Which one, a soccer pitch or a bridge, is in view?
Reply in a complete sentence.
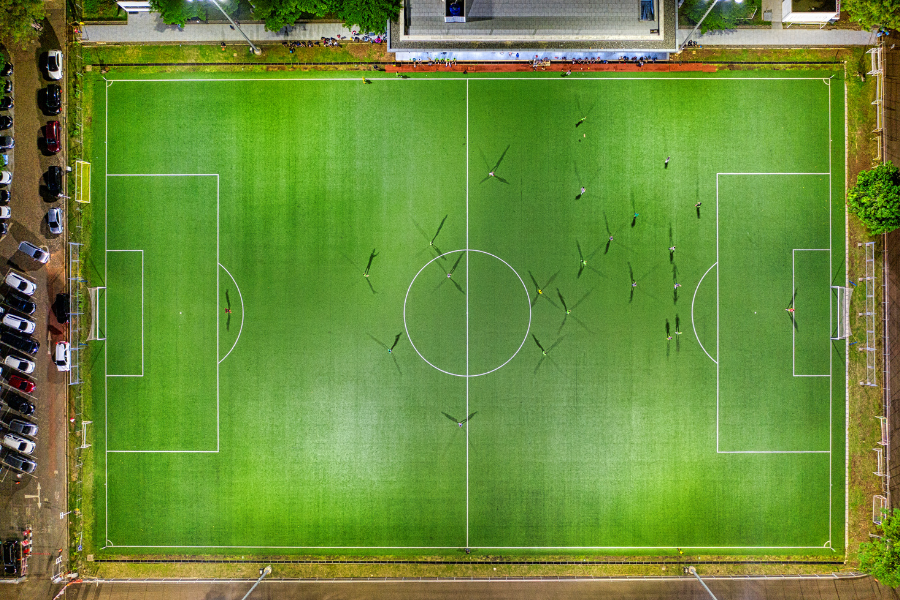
There is a soccer pitch in the scene.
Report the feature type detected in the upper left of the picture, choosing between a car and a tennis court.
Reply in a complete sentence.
There is a car in the upper left of the picture.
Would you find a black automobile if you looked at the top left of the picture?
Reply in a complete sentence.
Yes, looking at the top left of the picture, one can make out a black automobile.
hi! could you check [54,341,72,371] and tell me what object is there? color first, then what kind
white car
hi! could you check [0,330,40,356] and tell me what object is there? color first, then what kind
black car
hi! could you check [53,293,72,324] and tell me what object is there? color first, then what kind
black car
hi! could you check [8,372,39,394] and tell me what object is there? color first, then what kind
red car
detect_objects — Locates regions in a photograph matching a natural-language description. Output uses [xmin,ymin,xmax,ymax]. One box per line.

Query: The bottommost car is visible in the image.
[0,539,20,575]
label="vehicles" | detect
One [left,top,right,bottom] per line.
[0,330,40,356]
[0,154,10,167]
[45,121,63,153]
[0,380,6,394]
[4,432,39,456]
[47,208,64,235]
[0,77,14,94]
[5,451,40,474]
[45,83,63,115]
[47,51,64,81]
[0,114,15,131]
[0,63,15,78]
[4,391,39,415]
[0,134,16,150]
[0,170,14,185]
[0,95,16,111]
[54,341,72,371]
[53,293,72,324]
[8,372,39,394]
[4,352,37,375]
[2,312,38,336]
[0,205,13,220]
[8,416,40,437]
[5,293,39,315]
[5,272,39,295]
[46,165,64,197]
[0,539,20,575]
[0,222,10,235]
[18,241,50,264]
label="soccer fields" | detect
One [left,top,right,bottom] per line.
[92,72,846,555]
